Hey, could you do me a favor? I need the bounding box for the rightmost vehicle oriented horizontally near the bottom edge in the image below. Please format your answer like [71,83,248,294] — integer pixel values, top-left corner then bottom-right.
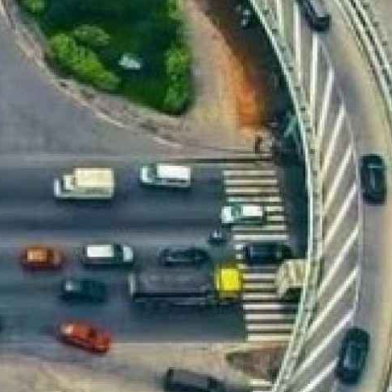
[165,367,223,392]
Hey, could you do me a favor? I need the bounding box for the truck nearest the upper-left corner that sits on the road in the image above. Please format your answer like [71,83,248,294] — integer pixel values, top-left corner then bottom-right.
[52,169,117,200]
